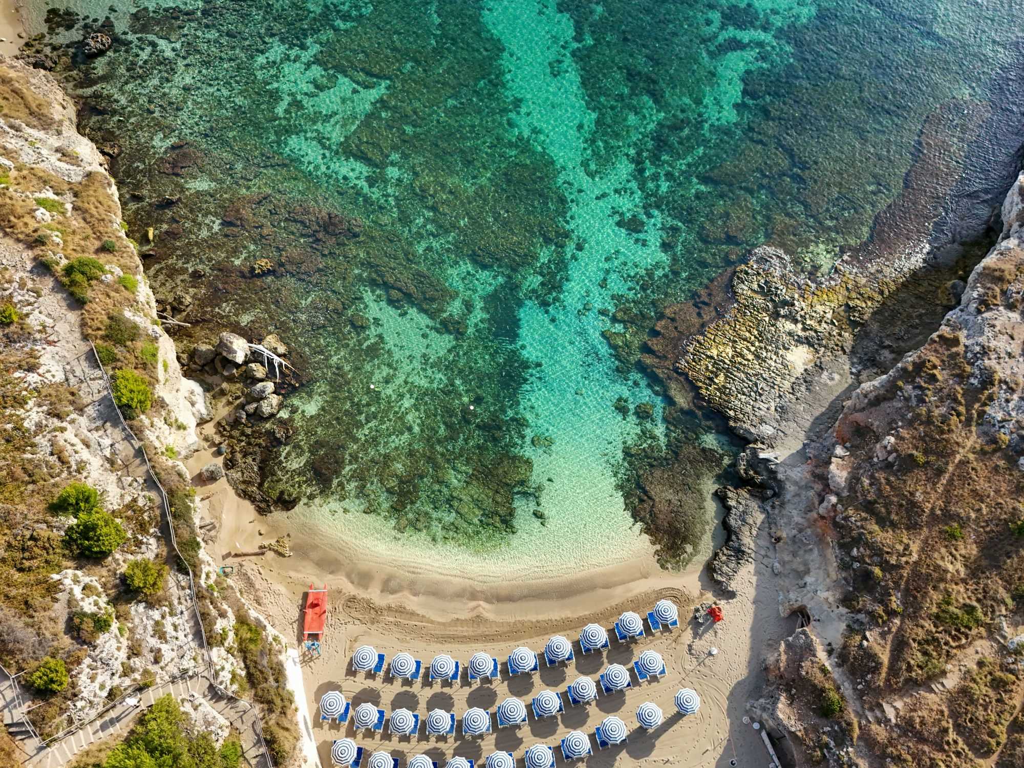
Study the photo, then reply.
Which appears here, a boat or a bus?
boat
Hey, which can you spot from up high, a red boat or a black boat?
red boat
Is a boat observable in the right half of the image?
No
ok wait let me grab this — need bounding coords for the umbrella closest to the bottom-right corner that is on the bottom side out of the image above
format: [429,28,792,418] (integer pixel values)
[673,687,699,715]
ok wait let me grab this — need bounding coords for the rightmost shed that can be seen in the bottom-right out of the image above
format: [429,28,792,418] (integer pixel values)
[759,724,801,768]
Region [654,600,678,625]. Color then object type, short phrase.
white umbrella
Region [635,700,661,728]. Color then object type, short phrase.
white umbrella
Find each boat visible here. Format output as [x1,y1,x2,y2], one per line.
[303,586,329,641]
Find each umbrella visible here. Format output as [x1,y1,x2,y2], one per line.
[356,700,382,730]
[469,654,496,681]
[673,687,699,715]
[425,708,451,736]
[561,729,588,758]
[332,737,361,767]
[598,718,624,746]
[635,700,661,728]
[431,656,456,682]
[509,646,535,673]
[320,689,347,718]
[603,664,628,691]
[583,624,609,650]
[639,650,663,676]
[654,600,678,625]
[617,612,641,637]
[544,635,570,662]
[391,654,416,680]
[354,645,379,672]
[391,707,417,735]
[528,741,553,768]
[368,750,394,768]
[568,677,594,705]
[534,687,560,716]
[498,698,524,727]
[486,748,513,768]
[463,708,488,736]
